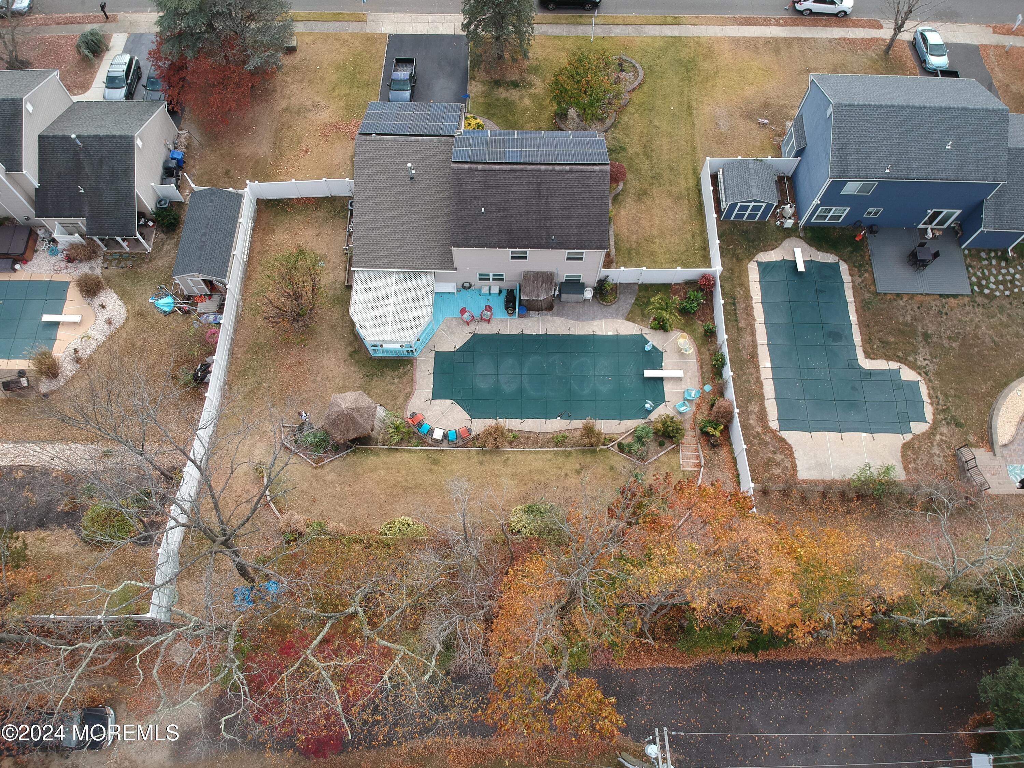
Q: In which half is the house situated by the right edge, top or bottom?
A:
top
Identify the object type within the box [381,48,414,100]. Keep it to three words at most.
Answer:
truck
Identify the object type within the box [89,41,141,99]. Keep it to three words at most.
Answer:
car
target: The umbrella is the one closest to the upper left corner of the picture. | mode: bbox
[155,296,196,311]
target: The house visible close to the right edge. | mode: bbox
[779,71,1024,265]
